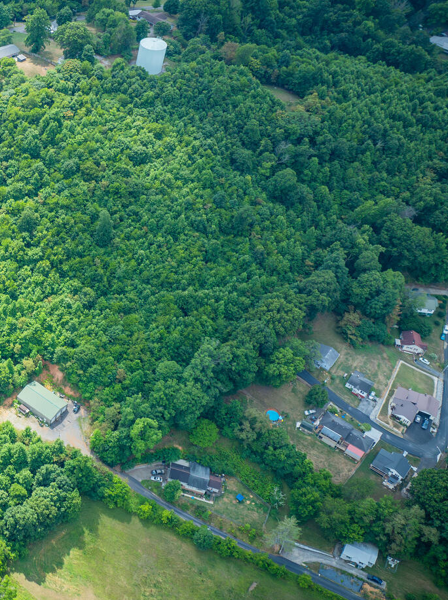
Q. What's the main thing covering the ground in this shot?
trees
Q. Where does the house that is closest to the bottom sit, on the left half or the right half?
right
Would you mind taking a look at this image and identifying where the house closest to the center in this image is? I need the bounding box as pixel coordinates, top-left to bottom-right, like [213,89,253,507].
[299,344,349,381]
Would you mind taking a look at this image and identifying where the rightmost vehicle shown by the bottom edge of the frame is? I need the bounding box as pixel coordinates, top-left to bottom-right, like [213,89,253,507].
[364,571,385,587]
